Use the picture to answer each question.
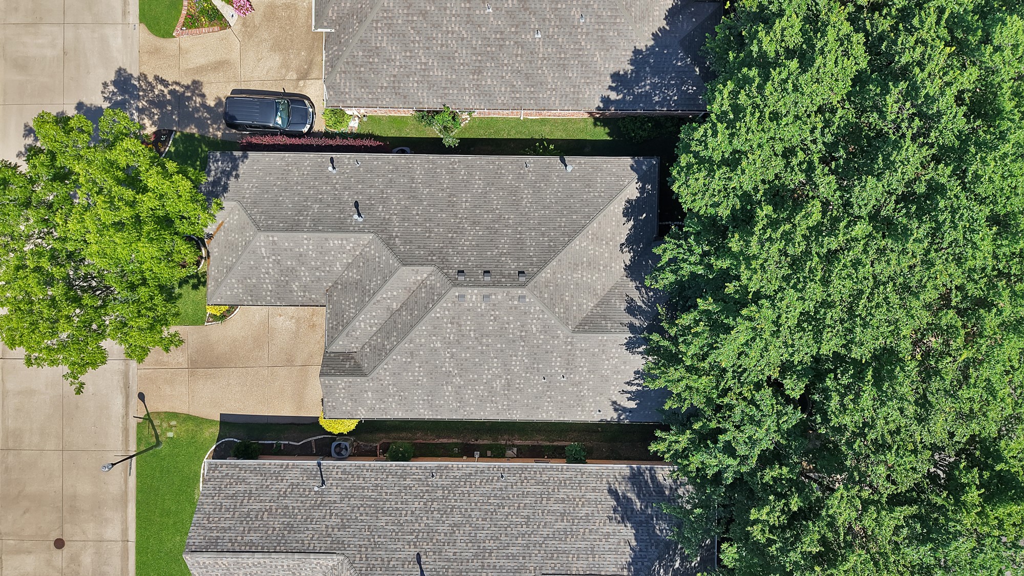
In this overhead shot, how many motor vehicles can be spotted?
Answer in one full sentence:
My tally gives 1 motor vehicle in this photo.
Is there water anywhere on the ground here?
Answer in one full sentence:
No, no water is visible.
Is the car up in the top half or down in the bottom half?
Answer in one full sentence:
You can find the car in the top half.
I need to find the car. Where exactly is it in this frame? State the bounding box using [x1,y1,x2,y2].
[225,92,320,136]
